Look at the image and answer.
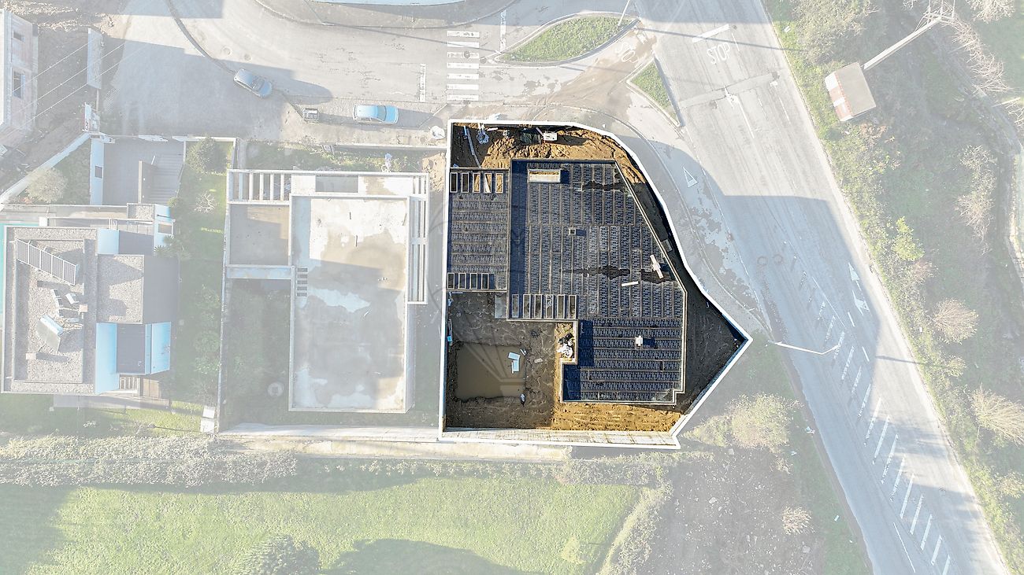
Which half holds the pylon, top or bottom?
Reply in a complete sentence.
Seen from above, the pylon lies in the top half of the view.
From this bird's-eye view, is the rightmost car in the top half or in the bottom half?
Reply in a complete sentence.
The top half of the photo is where the rightmost car is.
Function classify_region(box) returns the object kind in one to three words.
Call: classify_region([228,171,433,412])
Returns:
house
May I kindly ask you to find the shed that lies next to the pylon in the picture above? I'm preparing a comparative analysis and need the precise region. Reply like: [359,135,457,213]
[822,63,876,123]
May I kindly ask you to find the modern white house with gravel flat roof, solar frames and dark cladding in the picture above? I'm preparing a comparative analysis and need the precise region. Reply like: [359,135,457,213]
[2,203,181,408]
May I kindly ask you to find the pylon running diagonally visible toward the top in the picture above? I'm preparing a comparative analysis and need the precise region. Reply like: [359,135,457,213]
[861,0,956,74]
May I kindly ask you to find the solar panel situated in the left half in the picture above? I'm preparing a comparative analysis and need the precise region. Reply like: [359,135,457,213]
[16,235,88,284]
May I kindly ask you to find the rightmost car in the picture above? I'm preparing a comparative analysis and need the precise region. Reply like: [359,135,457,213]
[352,100,397,122]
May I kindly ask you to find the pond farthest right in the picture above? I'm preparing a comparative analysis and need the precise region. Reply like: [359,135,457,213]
[455,344,526,400]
